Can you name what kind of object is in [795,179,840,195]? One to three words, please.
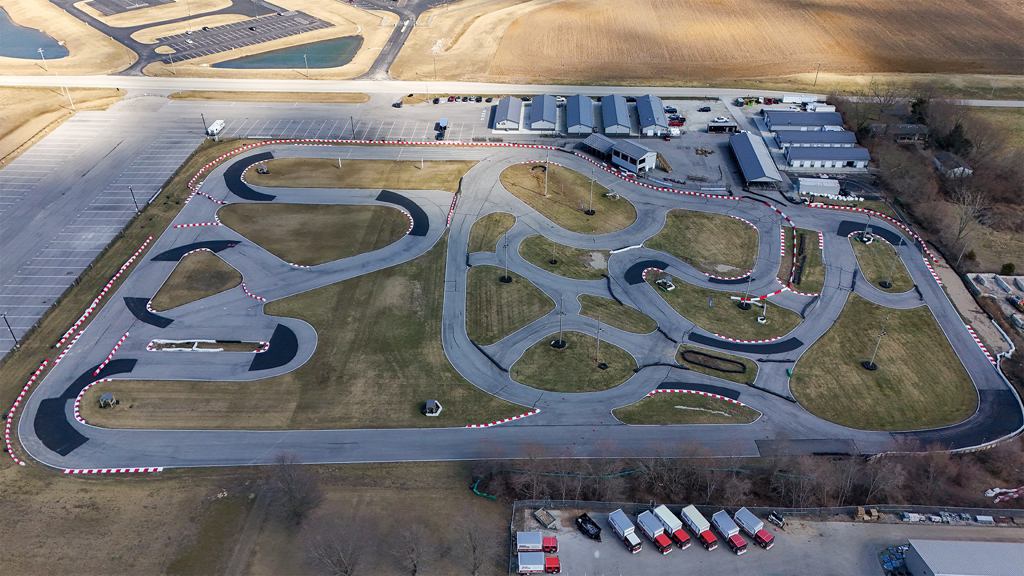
shed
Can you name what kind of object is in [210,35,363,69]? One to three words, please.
pond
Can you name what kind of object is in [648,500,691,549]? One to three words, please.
truck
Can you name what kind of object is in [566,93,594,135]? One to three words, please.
building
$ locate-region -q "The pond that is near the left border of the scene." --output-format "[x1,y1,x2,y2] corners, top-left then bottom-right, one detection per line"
[0,7,69,59]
